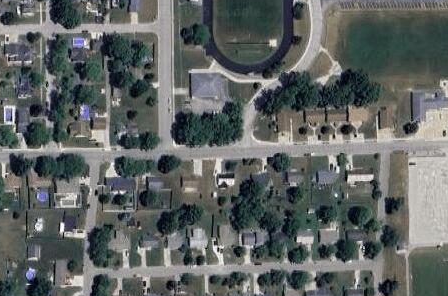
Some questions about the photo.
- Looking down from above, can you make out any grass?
Yes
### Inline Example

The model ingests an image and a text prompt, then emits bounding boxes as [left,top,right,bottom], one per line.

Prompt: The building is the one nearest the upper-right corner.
[412,91,448,122]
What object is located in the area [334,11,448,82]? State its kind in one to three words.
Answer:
sports field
